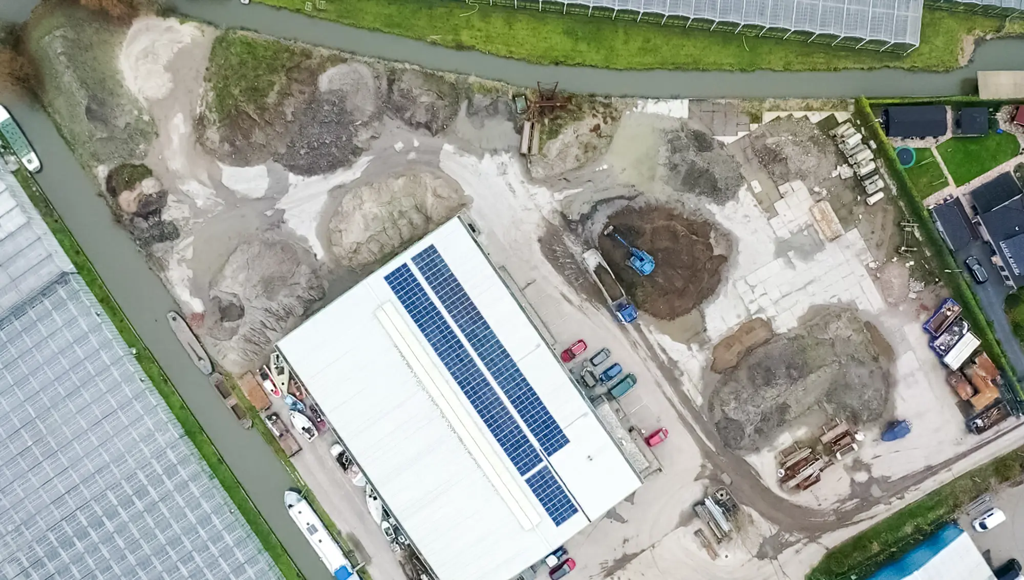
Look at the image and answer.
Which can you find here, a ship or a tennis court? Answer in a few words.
ship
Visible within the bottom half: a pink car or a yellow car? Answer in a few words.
pink car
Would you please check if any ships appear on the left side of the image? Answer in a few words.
Yes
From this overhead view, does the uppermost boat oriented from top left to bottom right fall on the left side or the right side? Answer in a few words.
left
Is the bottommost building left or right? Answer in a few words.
right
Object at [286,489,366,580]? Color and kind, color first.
white boat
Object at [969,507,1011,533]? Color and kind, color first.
white vehicle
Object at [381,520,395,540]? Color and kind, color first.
white boat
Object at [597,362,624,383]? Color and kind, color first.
blue car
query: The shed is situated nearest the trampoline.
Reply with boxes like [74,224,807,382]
[884,105,949,139]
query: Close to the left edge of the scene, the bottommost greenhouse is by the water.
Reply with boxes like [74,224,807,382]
[0,272,287,580]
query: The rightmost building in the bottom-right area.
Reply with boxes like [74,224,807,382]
[862,521,1005,580]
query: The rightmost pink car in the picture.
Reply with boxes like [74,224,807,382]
[644,427,671,448]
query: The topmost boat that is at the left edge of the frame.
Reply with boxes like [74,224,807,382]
[0,101,42,172]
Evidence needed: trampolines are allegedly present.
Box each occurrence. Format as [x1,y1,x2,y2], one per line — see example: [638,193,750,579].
[899,146,918,165]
